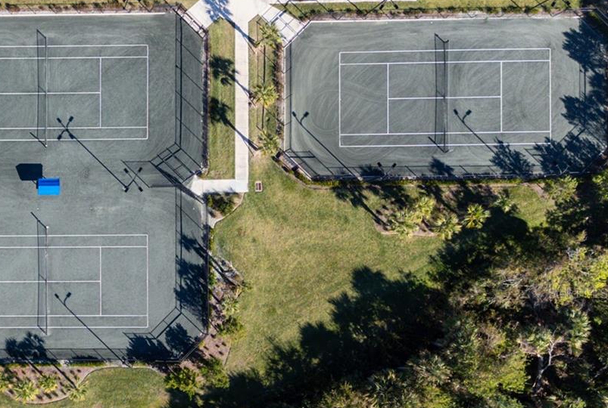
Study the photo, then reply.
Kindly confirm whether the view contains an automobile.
No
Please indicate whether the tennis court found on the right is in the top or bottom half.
top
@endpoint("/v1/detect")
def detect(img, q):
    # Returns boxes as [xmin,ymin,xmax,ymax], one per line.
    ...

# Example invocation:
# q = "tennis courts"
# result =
[285,21,608,179]
[0,14,206,189]
[0,189,208,362]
